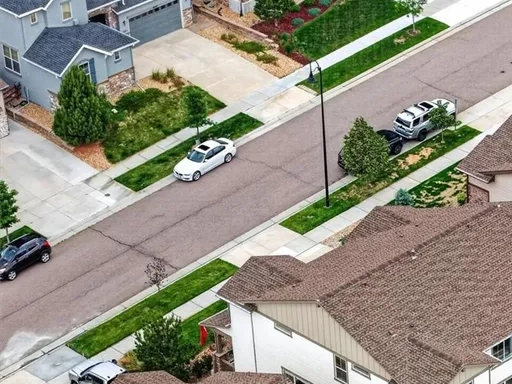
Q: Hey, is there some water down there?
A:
No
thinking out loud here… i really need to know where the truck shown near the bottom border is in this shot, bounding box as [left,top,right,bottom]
[66,355,127,384]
